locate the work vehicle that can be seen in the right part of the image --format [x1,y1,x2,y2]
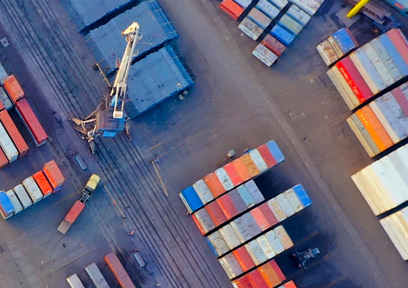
[293,241,323,272]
